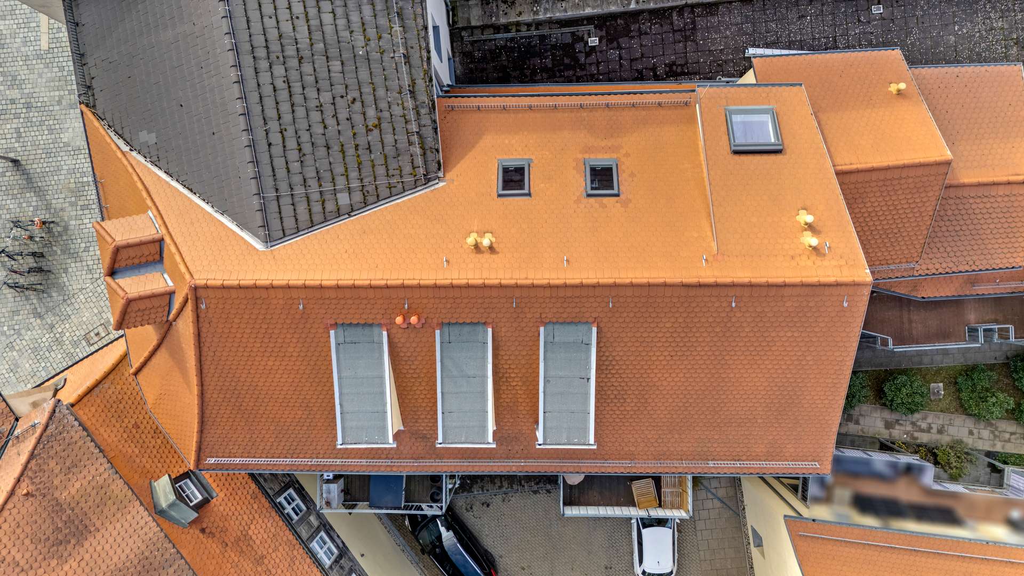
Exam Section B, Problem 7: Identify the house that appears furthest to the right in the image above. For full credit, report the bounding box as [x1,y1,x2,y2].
[909,59,1024,279]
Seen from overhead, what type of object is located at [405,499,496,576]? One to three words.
car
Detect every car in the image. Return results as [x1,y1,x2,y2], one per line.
[405,499,496,576]
[625,511,683,576]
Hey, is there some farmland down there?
No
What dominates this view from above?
buildings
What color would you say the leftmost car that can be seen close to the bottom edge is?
black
